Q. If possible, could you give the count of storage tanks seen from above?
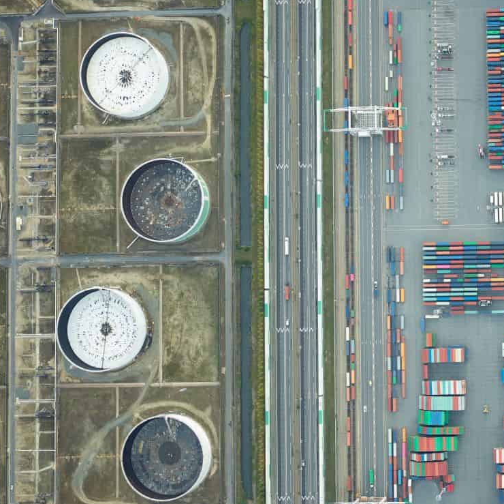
4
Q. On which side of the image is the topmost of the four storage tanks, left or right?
left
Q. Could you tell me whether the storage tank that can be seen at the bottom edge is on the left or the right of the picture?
left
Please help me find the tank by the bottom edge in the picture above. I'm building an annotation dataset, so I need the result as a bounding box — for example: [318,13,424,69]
[121,406,214,502]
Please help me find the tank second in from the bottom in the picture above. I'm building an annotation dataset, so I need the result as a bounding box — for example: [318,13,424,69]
[56,275,149,371]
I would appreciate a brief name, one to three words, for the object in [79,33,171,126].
storage tank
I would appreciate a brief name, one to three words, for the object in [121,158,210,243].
storage tank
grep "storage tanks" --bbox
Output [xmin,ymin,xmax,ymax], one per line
[121,158,210,243]
[121,406,214,502]
[56,275,149,371]
[79,33,171,126]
